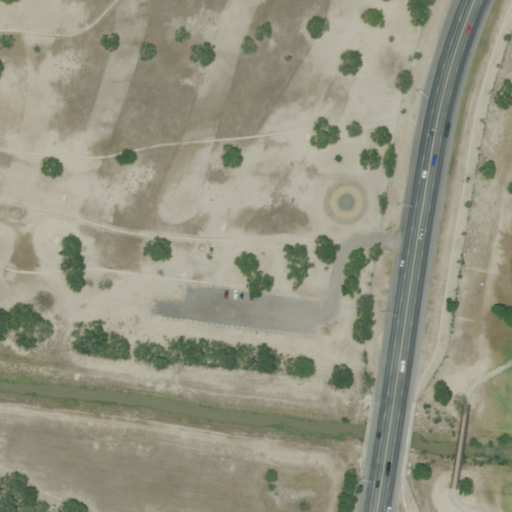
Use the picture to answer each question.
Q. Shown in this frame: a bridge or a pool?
bridge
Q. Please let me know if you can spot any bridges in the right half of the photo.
Yes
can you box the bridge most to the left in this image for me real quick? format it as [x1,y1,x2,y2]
[358,396,420,474]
